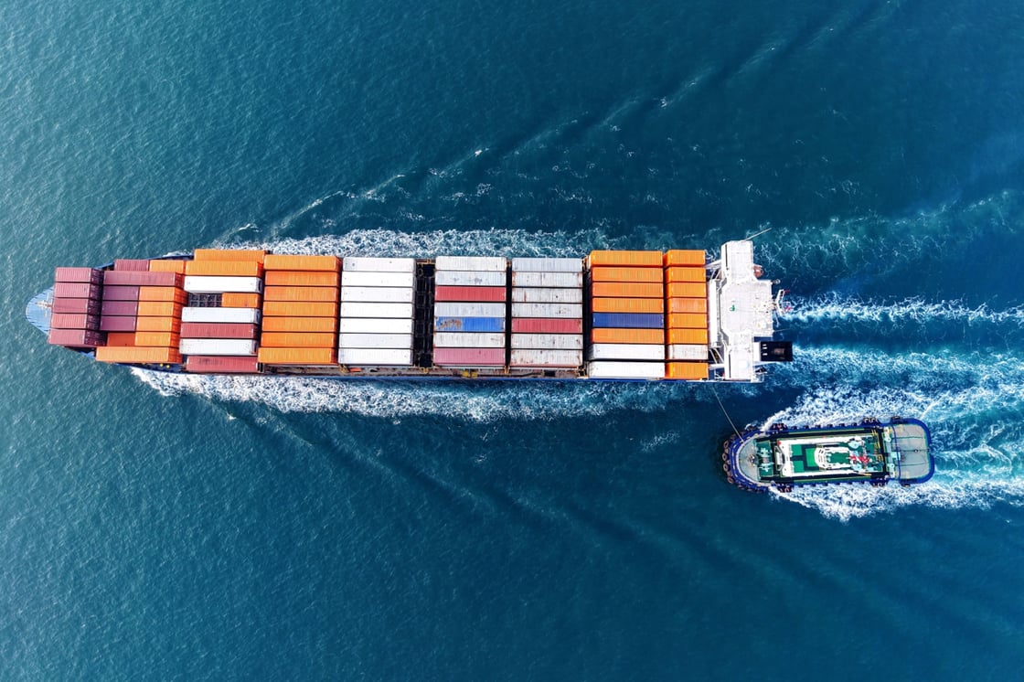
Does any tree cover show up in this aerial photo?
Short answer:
No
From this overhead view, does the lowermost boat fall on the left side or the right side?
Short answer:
right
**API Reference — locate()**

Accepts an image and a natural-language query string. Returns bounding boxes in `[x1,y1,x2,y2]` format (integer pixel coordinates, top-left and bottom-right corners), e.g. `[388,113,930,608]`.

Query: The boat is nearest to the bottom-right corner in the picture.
[720,416,933,494]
